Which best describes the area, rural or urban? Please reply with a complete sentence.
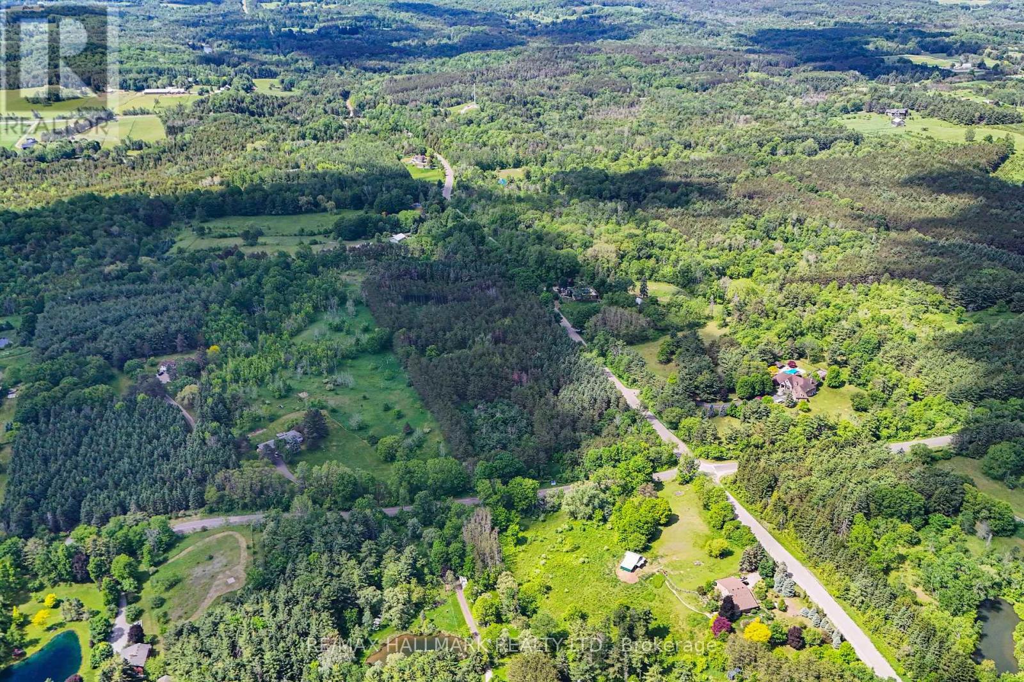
The land in this view is best described as rural.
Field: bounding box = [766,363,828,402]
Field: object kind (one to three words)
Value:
house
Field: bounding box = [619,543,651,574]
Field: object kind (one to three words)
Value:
barn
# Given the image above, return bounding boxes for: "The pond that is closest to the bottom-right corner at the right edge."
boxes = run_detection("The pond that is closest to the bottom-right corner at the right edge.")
[972,597,1024,676]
